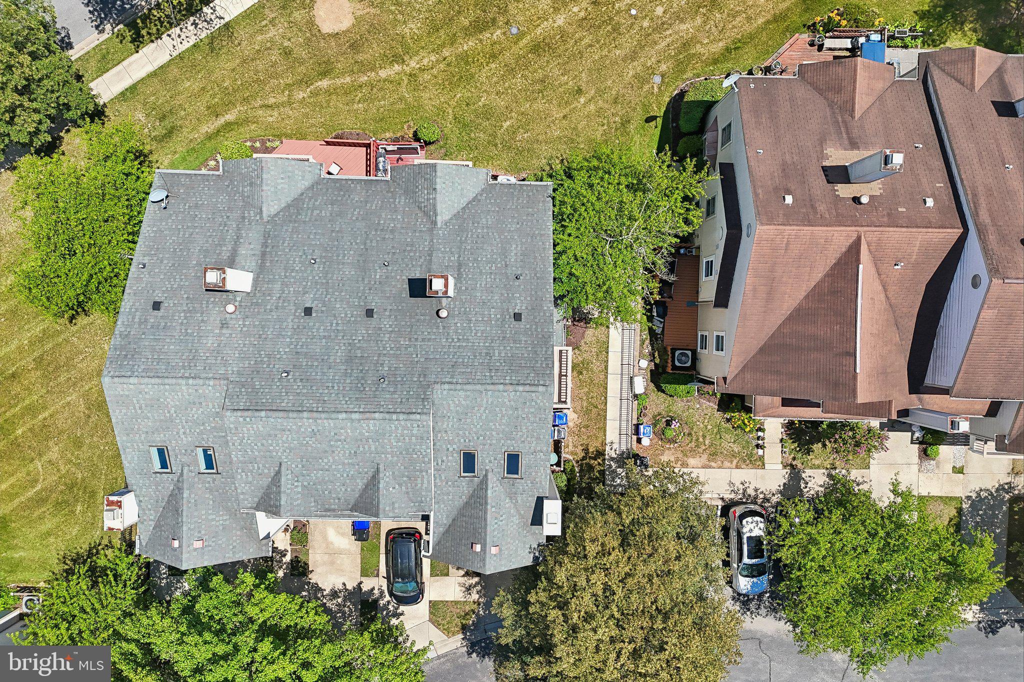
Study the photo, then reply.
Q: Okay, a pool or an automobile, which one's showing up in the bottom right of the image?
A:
automobile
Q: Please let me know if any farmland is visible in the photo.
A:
No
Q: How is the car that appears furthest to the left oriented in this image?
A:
vertically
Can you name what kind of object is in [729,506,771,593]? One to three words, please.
car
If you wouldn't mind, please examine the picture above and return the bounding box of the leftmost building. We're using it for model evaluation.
[102,152,572,574]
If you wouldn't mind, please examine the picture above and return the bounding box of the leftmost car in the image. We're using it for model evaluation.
[387,527,426,605]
